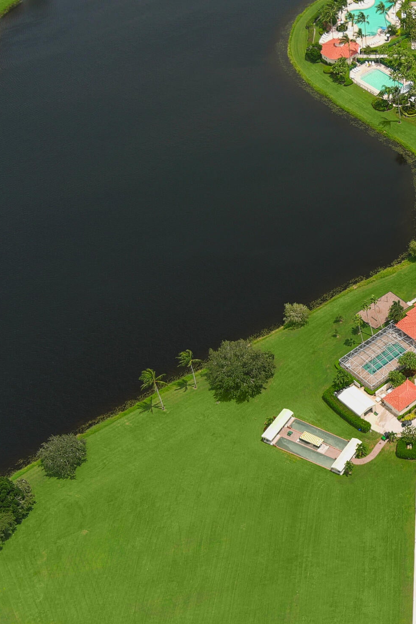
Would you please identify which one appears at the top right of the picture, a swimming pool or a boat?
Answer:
swimming pool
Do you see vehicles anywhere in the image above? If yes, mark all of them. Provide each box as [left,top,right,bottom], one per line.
[382,431,390,441]
[402,419,411,427]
